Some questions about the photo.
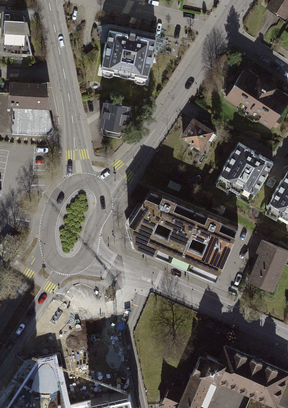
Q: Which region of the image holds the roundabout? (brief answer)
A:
left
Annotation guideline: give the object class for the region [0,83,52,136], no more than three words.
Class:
house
